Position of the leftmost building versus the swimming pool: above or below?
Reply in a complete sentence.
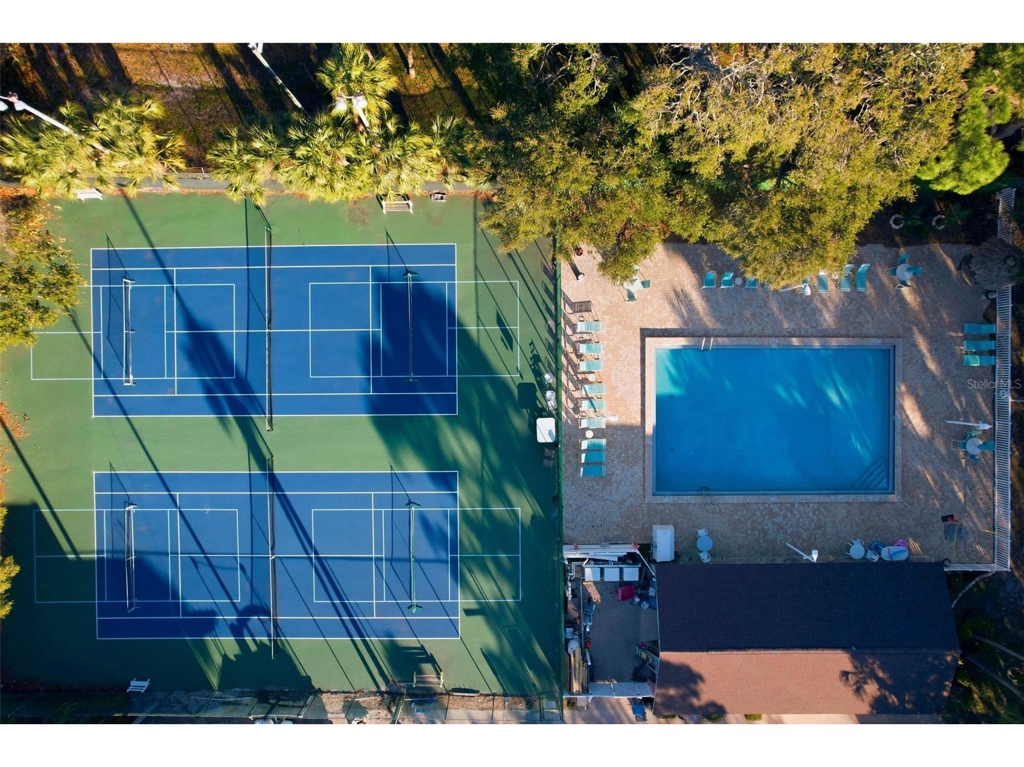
It's below the swimming pool that the leftmost building shows up.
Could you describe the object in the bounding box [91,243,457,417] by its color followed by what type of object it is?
blue tennis court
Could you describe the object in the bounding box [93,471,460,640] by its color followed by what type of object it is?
blue tennis court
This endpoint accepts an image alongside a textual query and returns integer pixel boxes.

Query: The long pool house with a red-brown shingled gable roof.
[654,559,961,715]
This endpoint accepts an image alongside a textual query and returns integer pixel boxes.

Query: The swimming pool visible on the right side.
[646,338,903,503]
